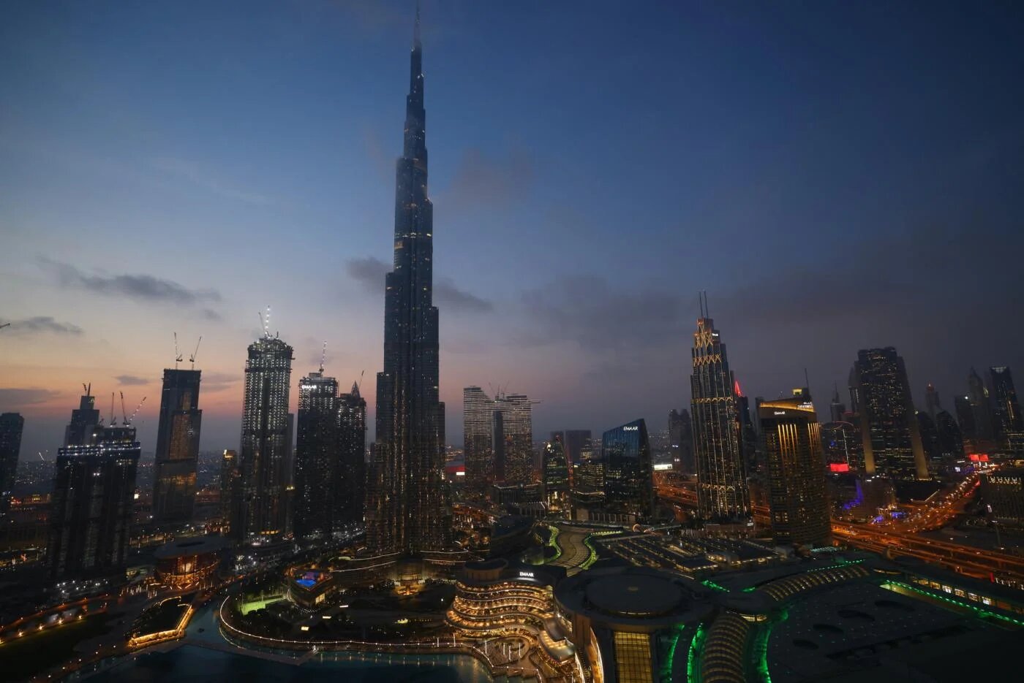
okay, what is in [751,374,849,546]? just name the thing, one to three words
building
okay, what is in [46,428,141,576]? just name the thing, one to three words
building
